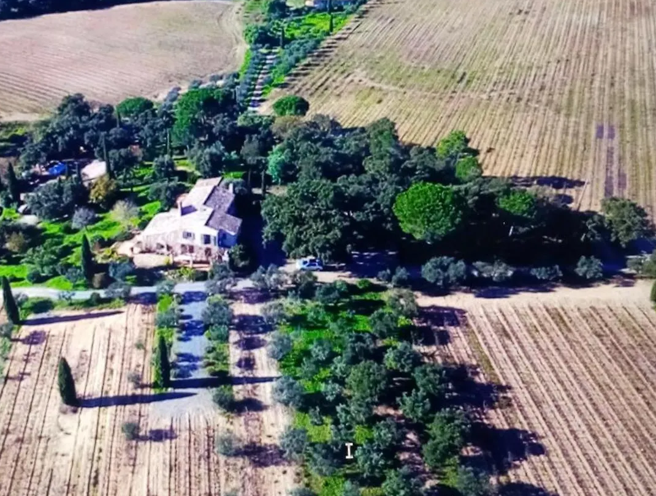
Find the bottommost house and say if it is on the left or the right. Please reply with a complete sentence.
It is on the left.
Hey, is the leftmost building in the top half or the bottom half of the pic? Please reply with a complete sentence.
You can find the leftmost building in the top half.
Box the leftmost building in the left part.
[78,161,108,185]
